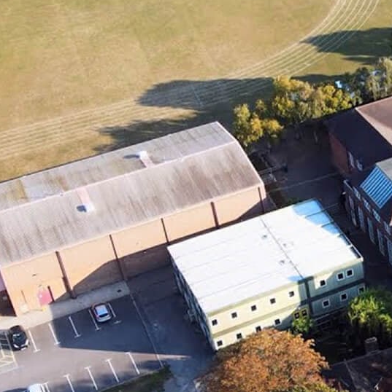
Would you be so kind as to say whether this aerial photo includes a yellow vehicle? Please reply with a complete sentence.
No, no yellow vehicle is visible in the scene.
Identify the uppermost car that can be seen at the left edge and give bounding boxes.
[9,327,28,353]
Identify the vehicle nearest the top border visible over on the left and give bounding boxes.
[92,301,112,324]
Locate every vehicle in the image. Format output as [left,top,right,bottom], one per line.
[9,327,28,353]
[24,382,43,392]
[92,301,112,324]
